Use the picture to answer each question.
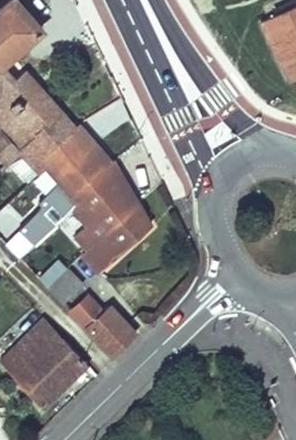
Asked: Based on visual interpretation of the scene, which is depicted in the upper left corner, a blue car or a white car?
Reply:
white car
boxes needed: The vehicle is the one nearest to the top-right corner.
[162,70,178,91]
